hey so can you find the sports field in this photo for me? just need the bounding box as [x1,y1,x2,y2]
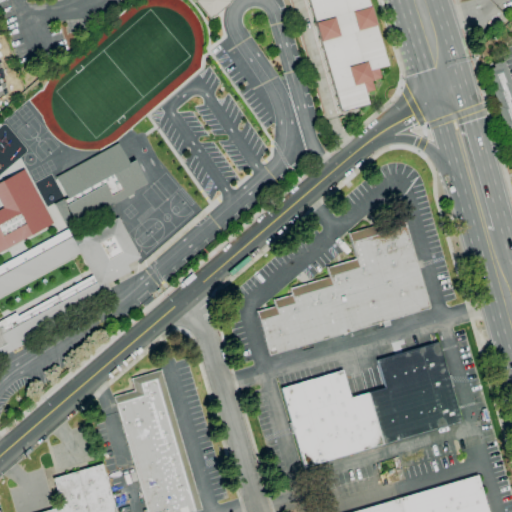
[52,7,196,142]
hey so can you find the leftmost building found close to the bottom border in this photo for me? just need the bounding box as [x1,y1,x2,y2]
[36,464,117,512]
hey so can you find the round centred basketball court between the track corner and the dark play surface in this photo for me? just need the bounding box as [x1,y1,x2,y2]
[9,102,62,163]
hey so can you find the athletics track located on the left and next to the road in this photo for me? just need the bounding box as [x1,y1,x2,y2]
[32,0,203,151]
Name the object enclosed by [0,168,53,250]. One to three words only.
building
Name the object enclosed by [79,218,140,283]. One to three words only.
building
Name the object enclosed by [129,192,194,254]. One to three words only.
basketball court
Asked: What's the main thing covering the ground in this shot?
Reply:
paved ground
